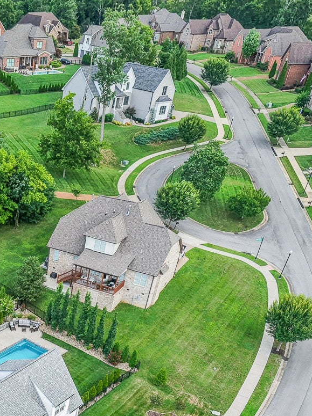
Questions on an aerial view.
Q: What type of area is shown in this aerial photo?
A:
residential area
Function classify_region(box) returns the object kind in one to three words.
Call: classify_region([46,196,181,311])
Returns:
house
